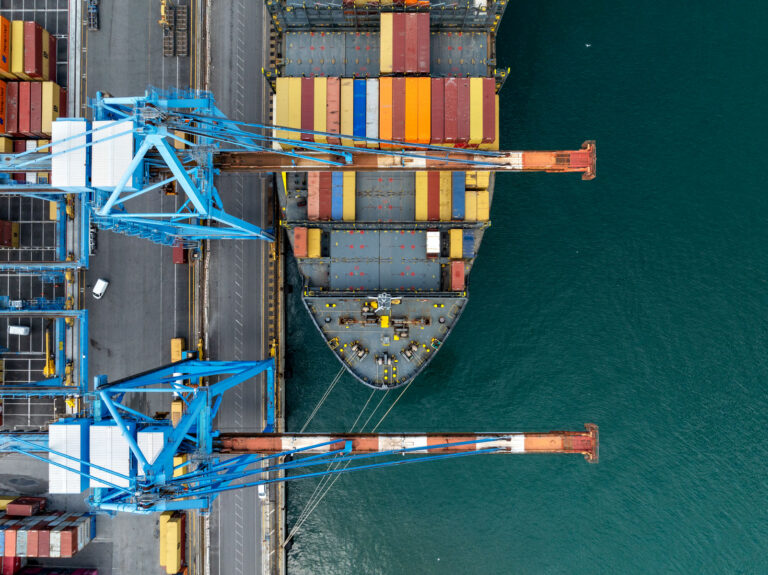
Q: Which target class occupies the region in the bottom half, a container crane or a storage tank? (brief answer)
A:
container crane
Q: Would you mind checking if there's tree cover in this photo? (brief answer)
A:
No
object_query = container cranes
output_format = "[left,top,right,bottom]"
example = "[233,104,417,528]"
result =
[0,177,92,285]
[0,291,92,397]
[0,87,596,262]
[0,333,596,523]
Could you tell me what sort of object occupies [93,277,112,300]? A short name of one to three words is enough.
vehicle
